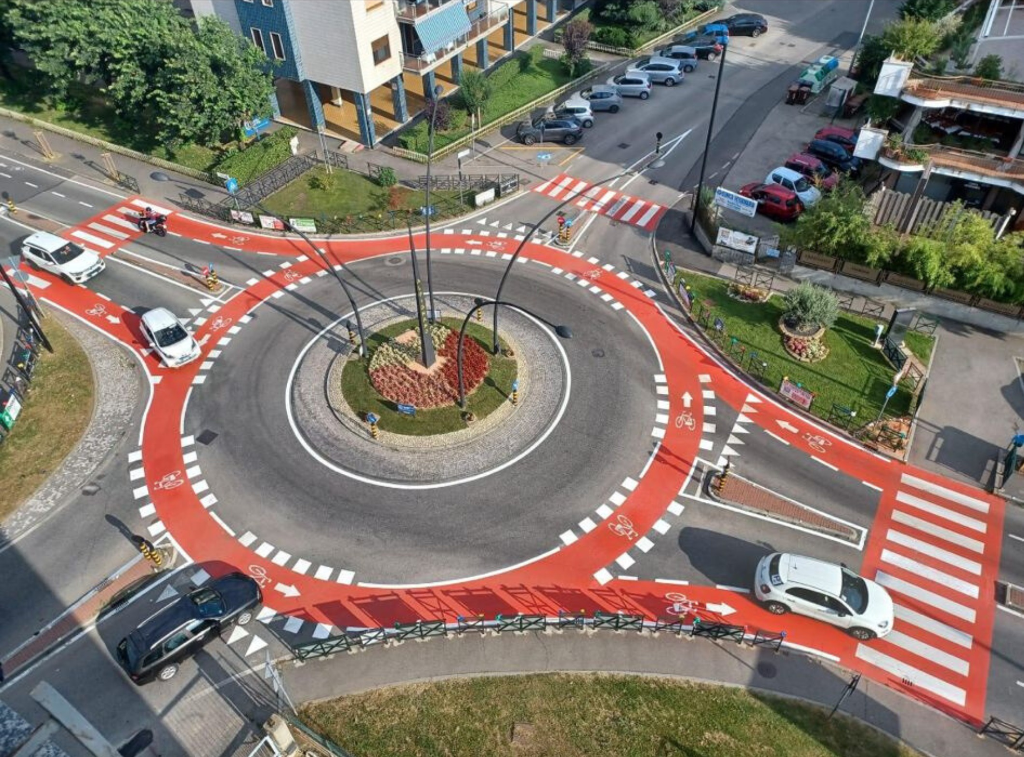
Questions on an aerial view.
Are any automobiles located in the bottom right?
Yes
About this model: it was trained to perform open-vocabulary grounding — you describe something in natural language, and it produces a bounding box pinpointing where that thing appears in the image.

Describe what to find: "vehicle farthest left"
[24,226,103,285]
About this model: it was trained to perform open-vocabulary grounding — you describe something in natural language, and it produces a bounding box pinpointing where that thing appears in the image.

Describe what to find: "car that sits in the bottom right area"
[757,550,895,639]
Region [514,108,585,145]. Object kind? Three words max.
car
